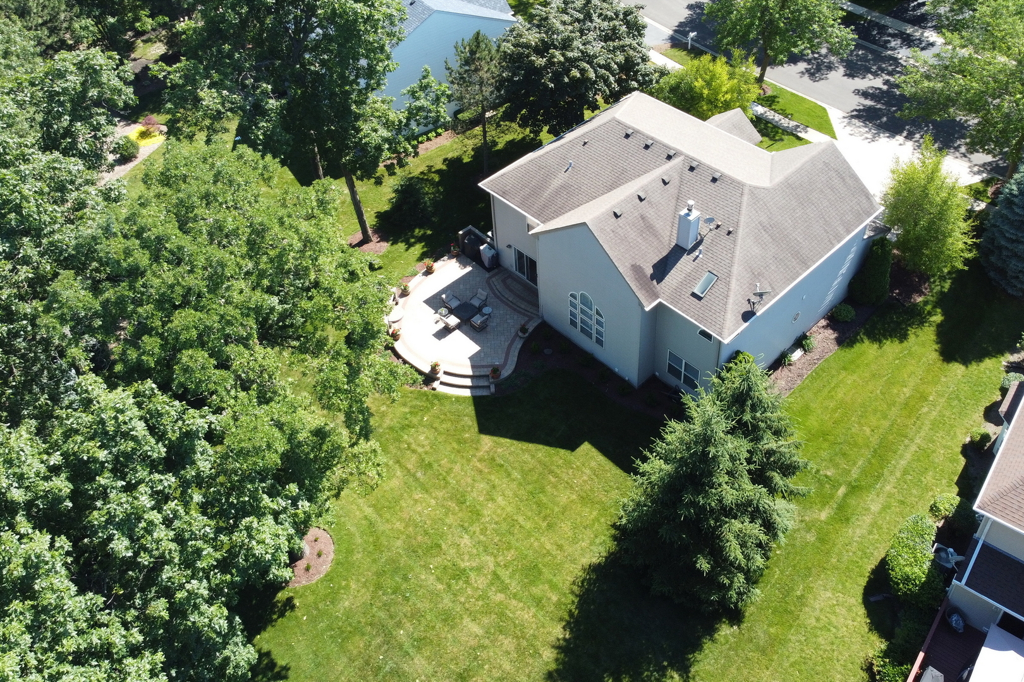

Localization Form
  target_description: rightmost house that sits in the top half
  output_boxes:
[475,89,887,397]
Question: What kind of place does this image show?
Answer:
residential area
